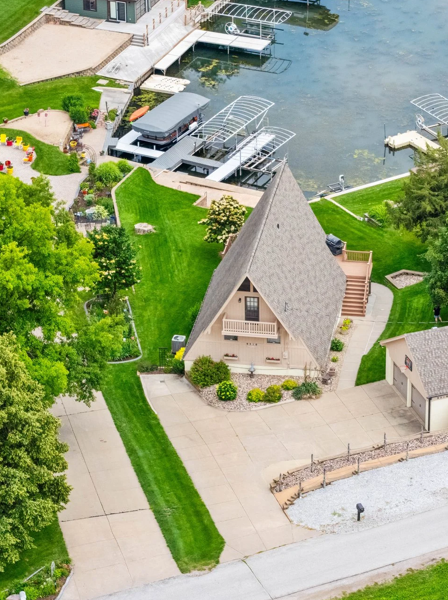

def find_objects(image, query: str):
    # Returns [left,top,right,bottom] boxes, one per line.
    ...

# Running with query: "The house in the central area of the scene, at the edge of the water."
[183,160,345,376]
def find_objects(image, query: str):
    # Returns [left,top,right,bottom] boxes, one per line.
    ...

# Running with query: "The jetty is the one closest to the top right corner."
[384,123,435,159]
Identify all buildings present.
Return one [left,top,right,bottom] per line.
[183,160,345,376]
[376,322,448,431]
[64,0,164,23]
